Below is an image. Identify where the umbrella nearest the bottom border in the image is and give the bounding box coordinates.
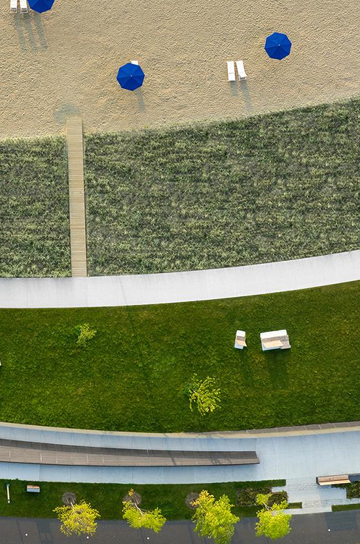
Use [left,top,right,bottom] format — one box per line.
[117,63,144,91]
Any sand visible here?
Yes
